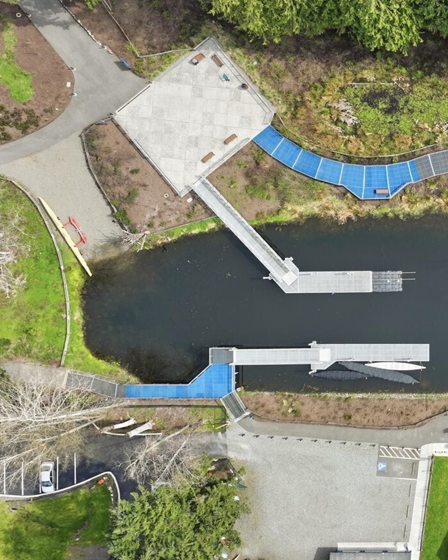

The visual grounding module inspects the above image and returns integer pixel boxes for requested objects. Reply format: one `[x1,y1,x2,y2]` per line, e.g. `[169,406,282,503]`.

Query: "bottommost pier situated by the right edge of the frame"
[310,343,429,369]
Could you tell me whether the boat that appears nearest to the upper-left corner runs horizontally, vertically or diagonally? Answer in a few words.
diagonally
